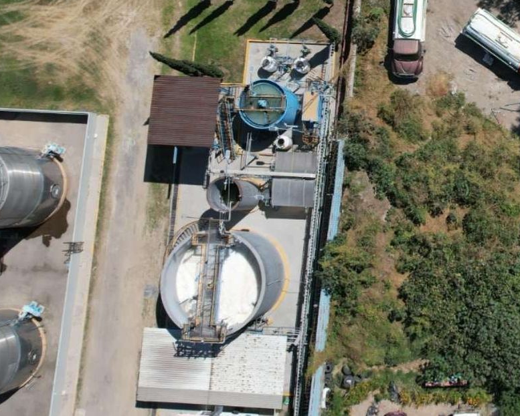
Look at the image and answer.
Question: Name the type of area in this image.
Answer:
industrial area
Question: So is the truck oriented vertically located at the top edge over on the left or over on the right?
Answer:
right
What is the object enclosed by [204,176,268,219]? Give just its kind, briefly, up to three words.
storage tank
